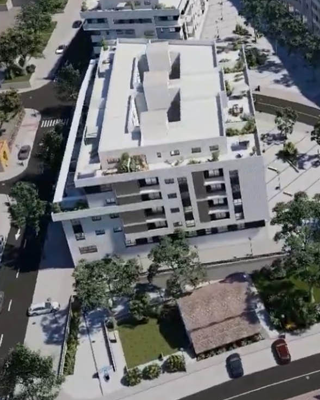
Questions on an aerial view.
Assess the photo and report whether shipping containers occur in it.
No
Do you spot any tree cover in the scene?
Yes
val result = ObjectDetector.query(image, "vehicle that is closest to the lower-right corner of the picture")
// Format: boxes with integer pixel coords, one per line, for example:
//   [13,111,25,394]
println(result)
[271,337,294,363]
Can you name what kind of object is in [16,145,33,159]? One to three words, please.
car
